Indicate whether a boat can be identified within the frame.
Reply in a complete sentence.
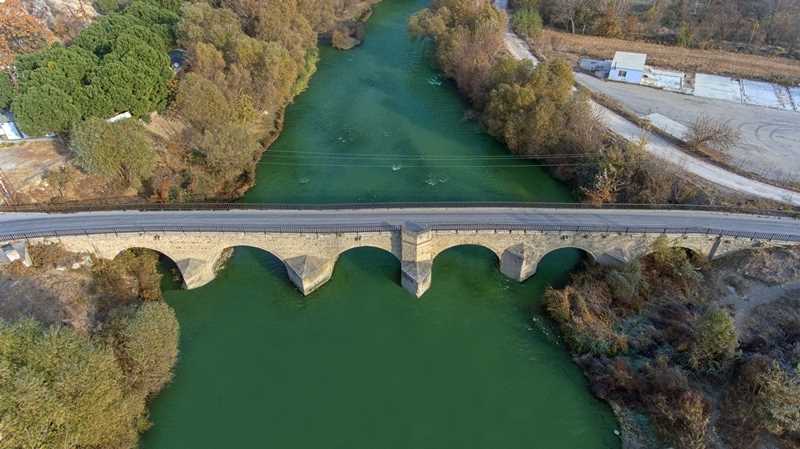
No, this view has no boat in it.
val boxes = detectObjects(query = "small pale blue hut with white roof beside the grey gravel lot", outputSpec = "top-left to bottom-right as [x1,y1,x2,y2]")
[607,52,651,84]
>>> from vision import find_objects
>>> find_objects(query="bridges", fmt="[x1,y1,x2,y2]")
[0,201,800,296]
